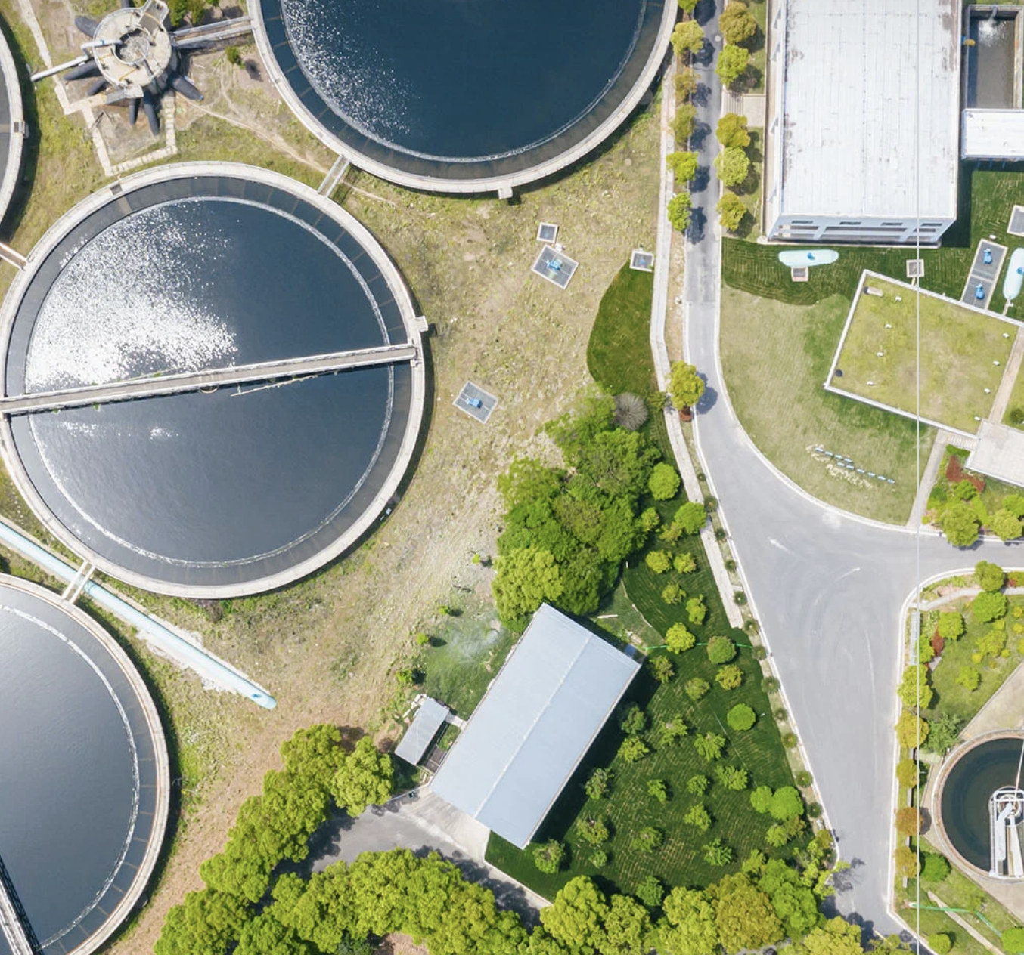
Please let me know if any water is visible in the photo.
Yes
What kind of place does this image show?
industrial area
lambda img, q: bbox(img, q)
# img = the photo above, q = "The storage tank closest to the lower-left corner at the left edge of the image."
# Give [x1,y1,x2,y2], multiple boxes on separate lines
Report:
[0,574,171,955]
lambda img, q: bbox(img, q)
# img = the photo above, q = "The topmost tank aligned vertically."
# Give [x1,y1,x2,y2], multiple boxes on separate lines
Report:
[0,27,35,225]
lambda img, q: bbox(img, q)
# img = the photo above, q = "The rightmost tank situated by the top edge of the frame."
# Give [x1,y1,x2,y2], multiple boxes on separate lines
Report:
[248,0,678,204]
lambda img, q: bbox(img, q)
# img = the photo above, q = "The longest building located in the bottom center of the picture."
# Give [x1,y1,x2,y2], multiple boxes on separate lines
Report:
[430,603,642,849]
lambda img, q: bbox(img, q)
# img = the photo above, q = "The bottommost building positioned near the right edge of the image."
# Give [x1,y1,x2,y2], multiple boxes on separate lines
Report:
[962,420,1024,491]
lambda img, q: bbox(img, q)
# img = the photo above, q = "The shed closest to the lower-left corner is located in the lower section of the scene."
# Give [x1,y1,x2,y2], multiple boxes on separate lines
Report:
[394,697,452,766]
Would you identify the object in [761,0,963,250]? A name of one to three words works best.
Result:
building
